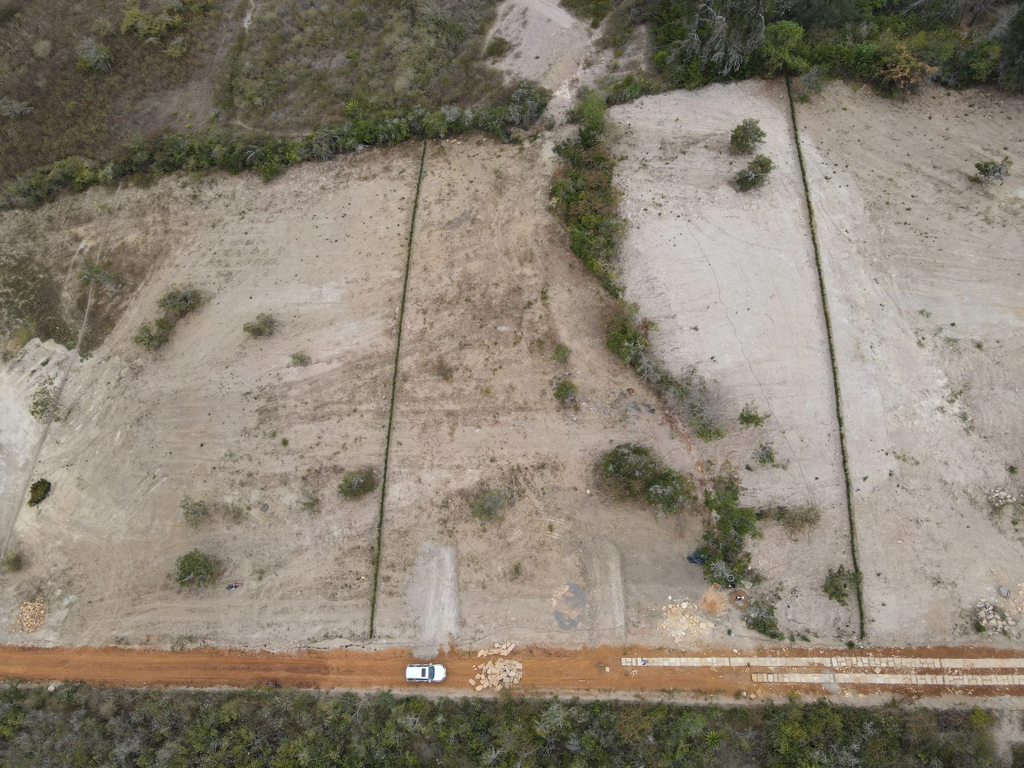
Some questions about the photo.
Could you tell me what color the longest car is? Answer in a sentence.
The longest car looks white in the image.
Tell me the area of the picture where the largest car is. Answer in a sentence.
The largest car appears toward the bottom of the photo.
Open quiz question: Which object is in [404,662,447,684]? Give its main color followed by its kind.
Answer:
white car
